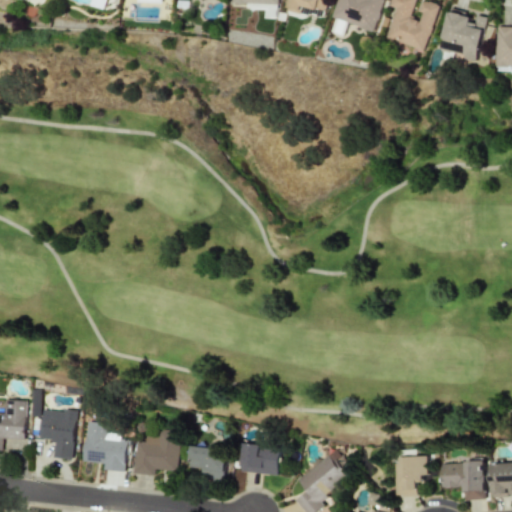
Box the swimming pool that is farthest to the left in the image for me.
[11,382,30,396]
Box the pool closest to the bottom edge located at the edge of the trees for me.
[358,490,370,508]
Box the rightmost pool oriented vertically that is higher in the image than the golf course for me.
[431,48,443,72]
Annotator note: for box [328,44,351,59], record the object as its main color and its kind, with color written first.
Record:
blue swimming pool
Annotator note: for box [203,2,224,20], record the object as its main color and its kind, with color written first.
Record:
blue swimming pool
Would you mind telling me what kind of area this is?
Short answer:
golf course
